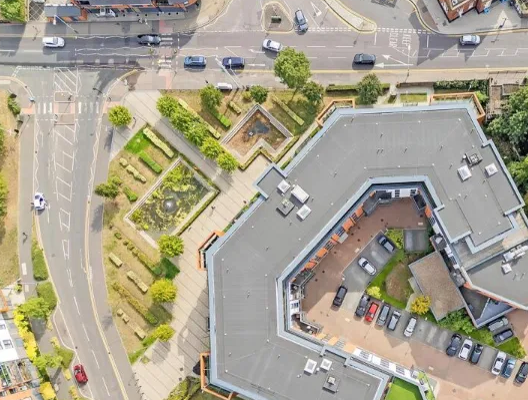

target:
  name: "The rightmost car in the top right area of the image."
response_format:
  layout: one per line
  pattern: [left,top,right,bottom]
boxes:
[459,34,480,46]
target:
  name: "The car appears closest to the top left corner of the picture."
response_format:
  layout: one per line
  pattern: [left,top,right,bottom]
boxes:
[42,35,64,48]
